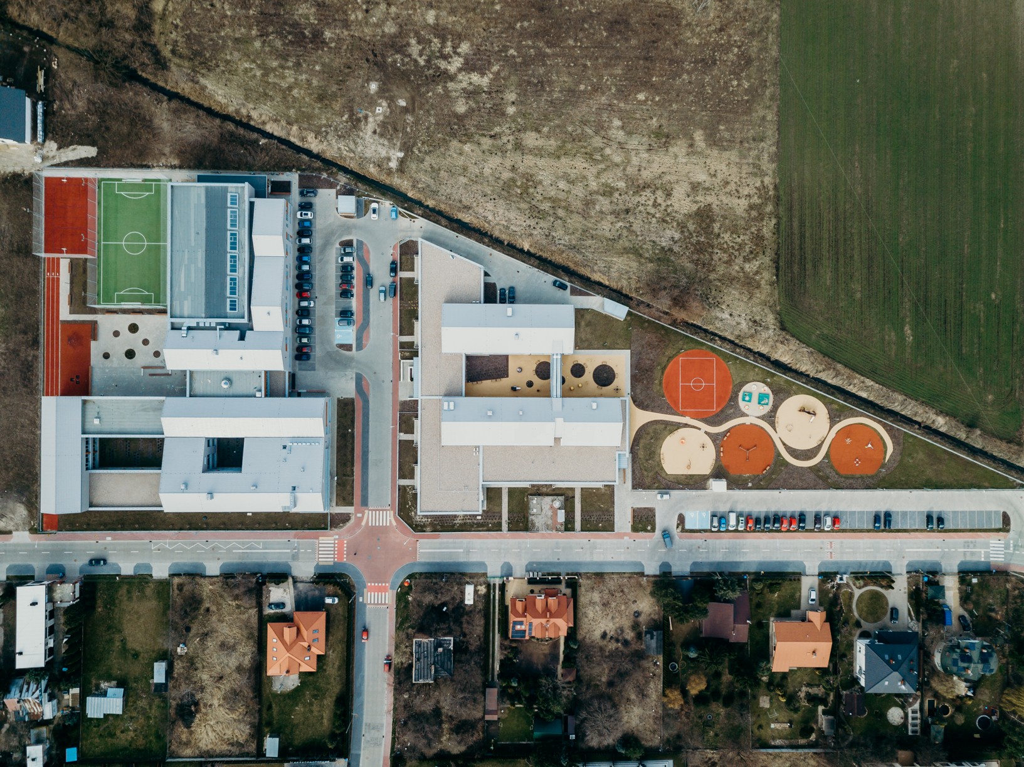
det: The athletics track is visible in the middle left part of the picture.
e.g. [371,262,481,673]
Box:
[46,257,60,396]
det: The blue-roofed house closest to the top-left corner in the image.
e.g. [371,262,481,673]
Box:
[0,88,36,147]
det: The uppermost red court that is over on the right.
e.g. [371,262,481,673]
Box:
[663,349,732,419]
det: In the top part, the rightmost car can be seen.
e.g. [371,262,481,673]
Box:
[552,279,569,291]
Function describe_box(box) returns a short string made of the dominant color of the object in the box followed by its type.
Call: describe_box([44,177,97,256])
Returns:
red sports court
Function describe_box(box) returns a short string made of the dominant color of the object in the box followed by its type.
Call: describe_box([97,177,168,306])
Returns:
green soccer field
